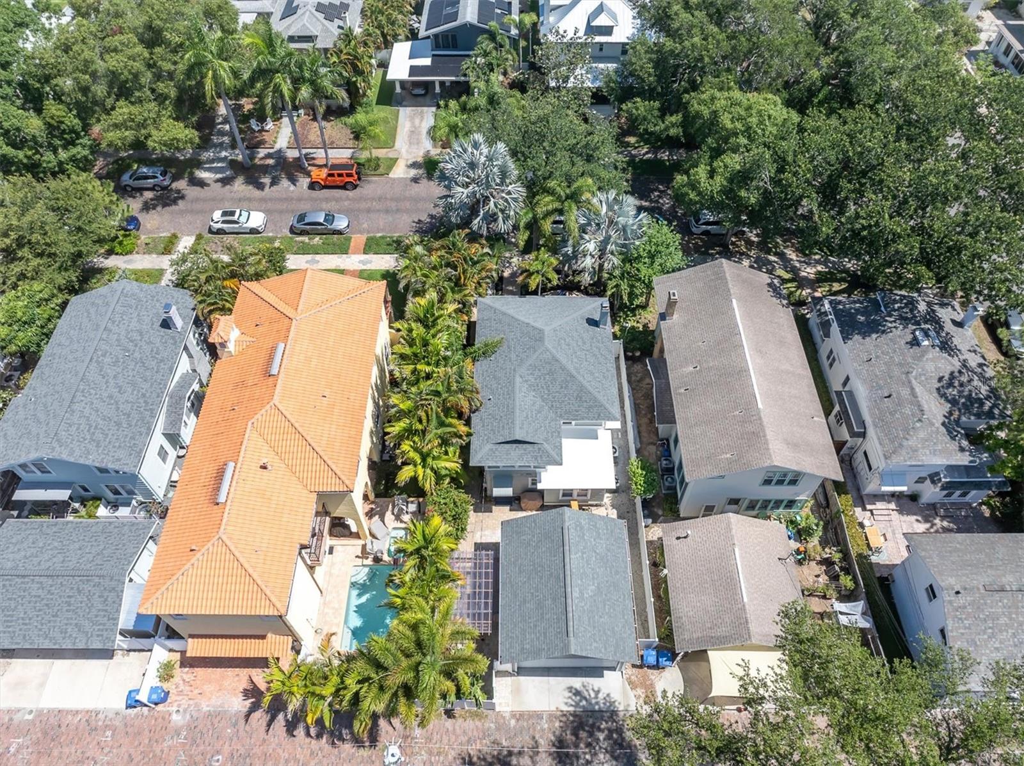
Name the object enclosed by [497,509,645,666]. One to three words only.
building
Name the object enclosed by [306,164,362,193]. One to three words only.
car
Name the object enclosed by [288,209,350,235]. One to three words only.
car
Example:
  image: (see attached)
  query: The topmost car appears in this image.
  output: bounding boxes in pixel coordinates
[407,80,430,98]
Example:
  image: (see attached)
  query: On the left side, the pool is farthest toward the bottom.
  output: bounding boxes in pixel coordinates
[335,559,409,655]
